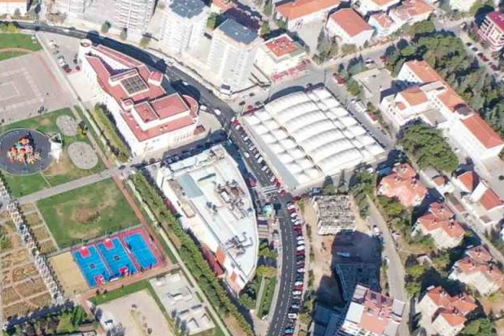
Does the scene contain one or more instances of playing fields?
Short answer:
Yes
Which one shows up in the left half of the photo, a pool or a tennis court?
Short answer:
tennis court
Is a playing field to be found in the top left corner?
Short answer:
No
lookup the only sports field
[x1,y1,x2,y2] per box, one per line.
[36,179,143,248]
